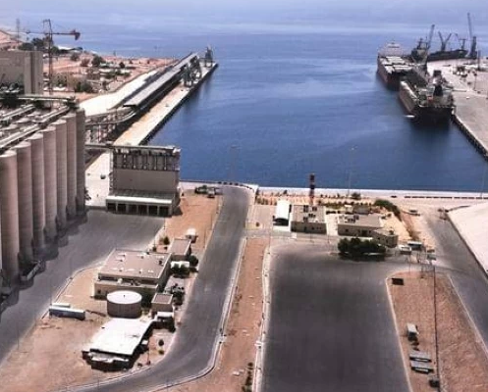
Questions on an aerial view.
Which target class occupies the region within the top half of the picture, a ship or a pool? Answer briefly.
ship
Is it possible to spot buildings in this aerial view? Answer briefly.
Yes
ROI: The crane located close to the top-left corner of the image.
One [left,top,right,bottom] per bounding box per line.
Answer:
[10,21,81,114]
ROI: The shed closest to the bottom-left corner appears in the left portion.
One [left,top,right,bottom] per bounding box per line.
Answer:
[89,312,150,369]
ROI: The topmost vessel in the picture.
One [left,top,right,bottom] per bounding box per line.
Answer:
[401,17,472,69]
